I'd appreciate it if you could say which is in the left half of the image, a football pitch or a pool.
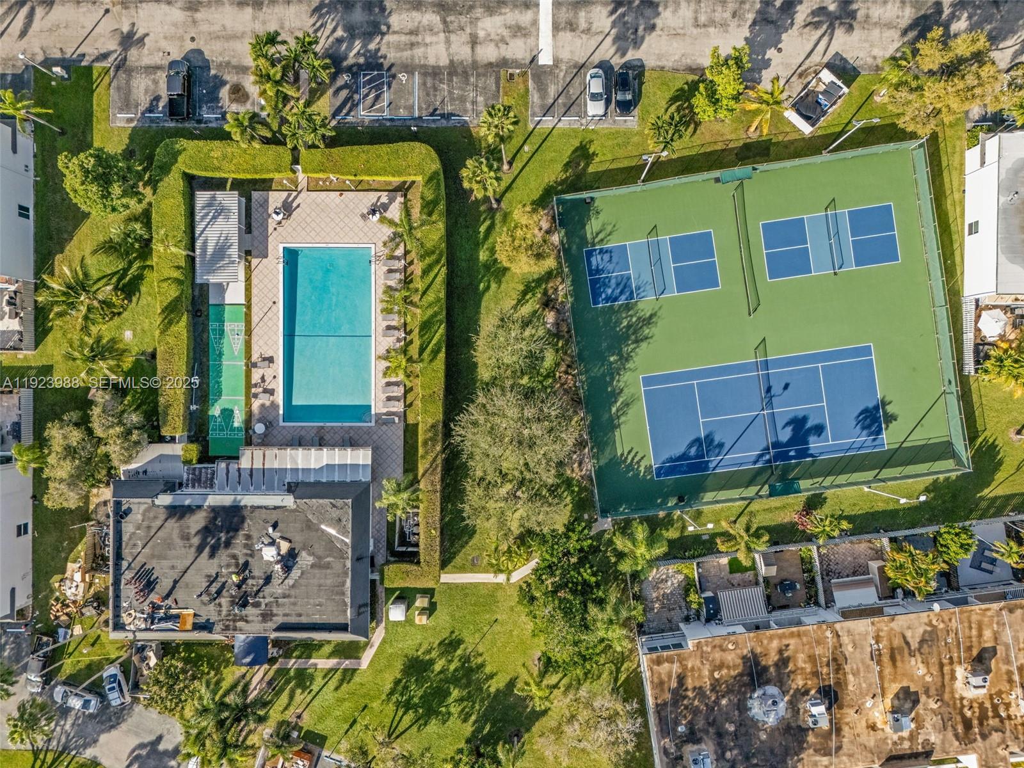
pool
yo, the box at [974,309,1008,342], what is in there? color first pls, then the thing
white umbrella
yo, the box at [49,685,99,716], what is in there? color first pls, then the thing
gray car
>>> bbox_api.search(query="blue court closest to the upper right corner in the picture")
[760,203,901,281]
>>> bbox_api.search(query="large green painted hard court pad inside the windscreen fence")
[553,149,953,512]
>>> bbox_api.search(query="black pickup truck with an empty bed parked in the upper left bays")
[160,58,188,118]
